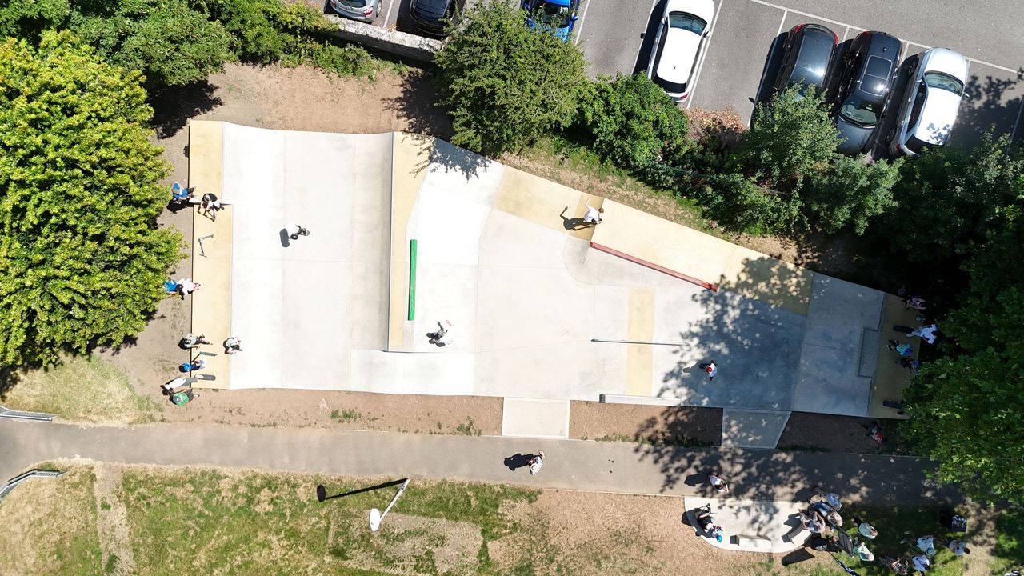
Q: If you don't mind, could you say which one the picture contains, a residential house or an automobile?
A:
automobile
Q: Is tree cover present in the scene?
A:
Yes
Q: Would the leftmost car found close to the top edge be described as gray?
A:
Yes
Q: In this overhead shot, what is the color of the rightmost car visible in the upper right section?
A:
white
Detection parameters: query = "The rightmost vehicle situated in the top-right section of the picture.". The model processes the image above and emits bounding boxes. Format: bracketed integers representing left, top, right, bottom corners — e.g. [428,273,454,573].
[890,44,975,159]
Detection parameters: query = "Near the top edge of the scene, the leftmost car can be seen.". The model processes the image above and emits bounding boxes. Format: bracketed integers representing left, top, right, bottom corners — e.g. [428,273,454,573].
[331,0,387,24]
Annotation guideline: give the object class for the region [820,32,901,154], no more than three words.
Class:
car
